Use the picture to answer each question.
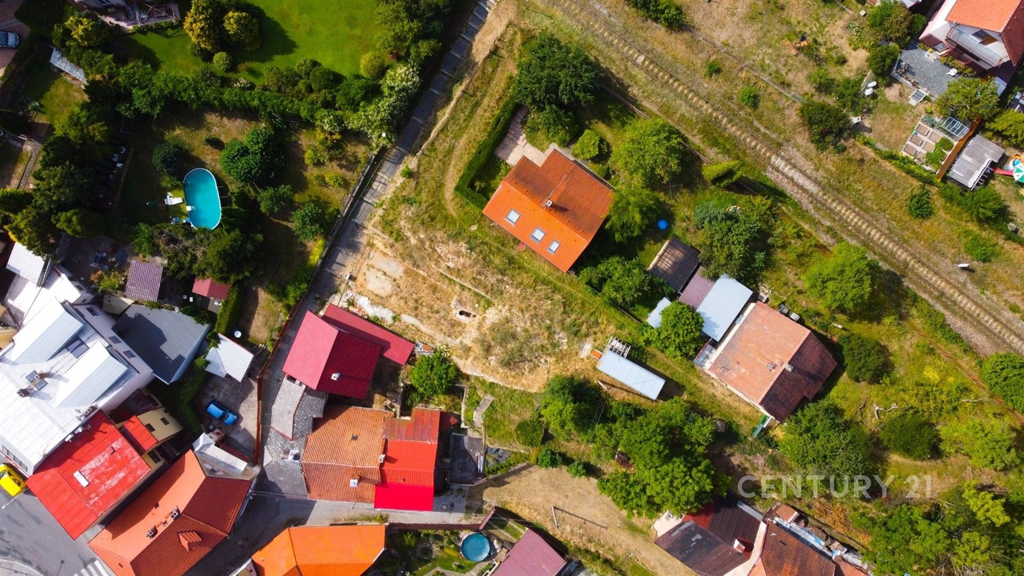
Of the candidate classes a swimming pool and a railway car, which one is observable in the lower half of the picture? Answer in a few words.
swimming pool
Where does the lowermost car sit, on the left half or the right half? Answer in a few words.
left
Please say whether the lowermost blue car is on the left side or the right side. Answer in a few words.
left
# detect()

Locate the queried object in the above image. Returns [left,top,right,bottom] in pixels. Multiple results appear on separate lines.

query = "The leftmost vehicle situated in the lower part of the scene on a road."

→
[0,462,22,499]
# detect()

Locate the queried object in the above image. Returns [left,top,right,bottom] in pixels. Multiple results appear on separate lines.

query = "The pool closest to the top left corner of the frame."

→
[184,168,233,228]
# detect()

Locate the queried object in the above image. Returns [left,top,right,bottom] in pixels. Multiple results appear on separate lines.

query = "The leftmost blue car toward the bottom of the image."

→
[201,401,237,426]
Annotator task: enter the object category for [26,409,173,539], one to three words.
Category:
building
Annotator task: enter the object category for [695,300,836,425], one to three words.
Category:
house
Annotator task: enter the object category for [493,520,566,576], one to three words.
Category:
house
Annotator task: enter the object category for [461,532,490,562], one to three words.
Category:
swimming pool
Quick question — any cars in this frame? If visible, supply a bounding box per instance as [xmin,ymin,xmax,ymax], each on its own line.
[201,401,237,426]
[0,26,18,48]
[0,462,22,499]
